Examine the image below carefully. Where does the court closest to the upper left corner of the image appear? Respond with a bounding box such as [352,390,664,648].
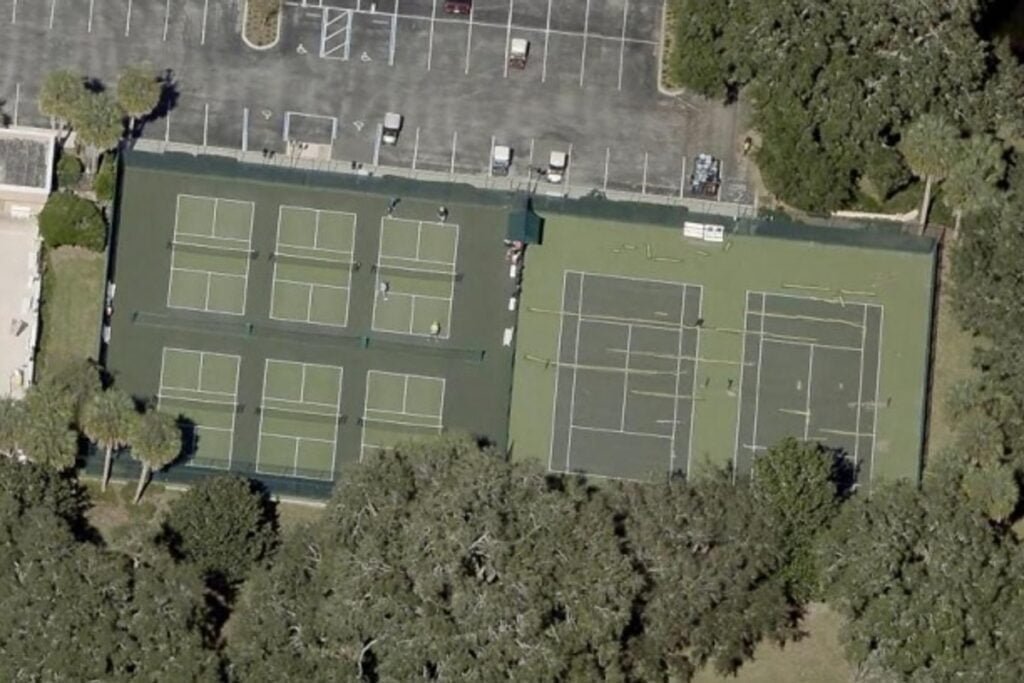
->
[168,195,254,315]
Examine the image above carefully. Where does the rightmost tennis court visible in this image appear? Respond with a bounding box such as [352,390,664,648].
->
[734,282,887,505]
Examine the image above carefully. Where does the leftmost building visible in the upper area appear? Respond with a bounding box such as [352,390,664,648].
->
[0,127,55,220]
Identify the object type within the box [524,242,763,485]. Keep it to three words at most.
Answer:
tennis court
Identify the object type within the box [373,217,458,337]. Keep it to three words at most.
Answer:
sports court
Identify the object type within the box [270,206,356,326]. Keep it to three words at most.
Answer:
sports court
